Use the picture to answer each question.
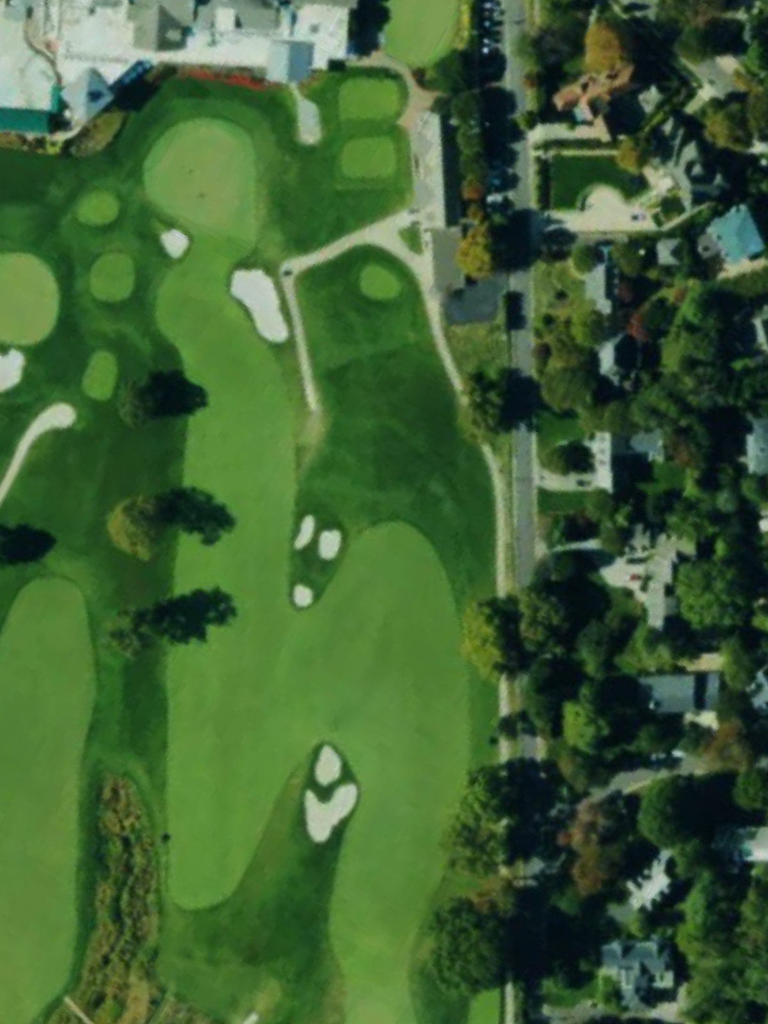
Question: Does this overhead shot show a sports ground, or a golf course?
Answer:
golf course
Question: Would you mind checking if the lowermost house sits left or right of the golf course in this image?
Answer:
on its right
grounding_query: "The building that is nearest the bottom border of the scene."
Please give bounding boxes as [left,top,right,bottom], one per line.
[604,941,675,1008]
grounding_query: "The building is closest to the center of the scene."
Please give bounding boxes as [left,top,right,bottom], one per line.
[587,431,615,493]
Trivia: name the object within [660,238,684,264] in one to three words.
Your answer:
house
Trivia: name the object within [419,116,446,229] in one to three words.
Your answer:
building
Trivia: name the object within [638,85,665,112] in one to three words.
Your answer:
shed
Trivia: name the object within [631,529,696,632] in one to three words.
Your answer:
house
